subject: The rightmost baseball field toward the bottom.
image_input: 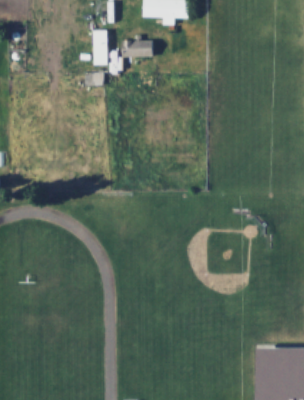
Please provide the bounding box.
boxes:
[188,224,257,294]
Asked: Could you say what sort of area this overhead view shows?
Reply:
sports ground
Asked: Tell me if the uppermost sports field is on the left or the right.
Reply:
right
